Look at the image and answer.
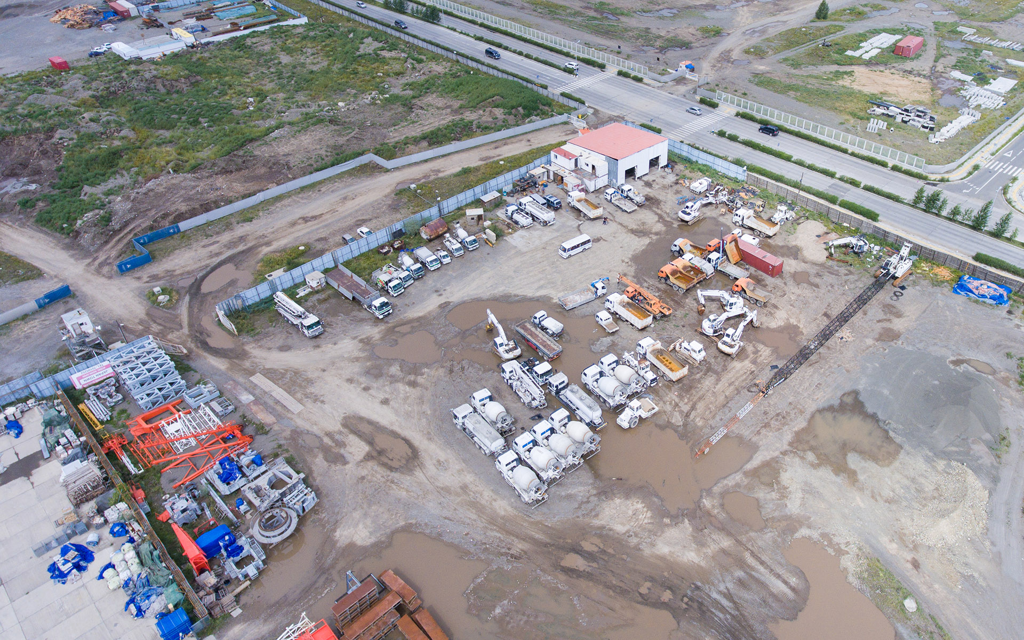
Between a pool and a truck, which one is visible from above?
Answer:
truck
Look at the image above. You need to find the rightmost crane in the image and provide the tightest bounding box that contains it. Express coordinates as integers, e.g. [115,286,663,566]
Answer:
[694,237,920,459]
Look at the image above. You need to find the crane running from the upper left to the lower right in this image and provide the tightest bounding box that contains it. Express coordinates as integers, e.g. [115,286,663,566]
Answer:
[621,270,676,318]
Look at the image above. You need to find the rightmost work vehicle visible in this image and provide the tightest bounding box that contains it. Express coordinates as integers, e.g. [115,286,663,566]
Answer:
[826,232,880,265]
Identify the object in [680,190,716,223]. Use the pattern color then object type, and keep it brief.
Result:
white work vehicle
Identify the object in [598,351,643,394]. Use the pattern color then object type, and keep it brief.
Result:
white truck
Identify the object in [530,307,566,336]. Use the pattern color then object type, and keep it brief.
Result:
white truck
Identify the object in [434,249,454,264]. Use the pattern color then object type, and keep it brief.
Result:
white vehicle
